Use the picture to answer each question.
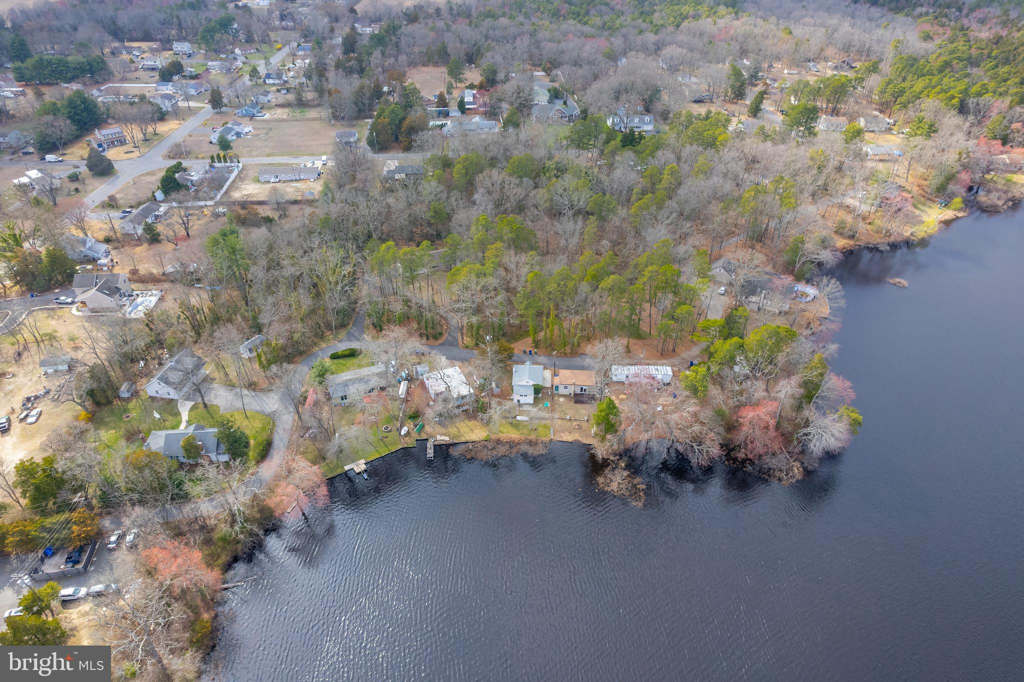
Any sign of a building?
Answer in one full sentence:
Yes, looking at the shot, I can spot a building.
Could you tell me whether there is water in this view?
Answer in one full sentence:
Yes, there is water in the image.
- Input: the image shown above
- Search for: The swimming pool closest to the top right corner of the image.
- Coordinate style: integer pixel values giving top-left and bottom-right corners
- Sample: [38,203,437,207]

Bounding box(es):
[799,285,826,302]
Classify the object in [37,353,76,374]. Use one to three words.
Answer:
shed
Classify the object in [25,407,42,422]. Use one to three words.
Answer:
car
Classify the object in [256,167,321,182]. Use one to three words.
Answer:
house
